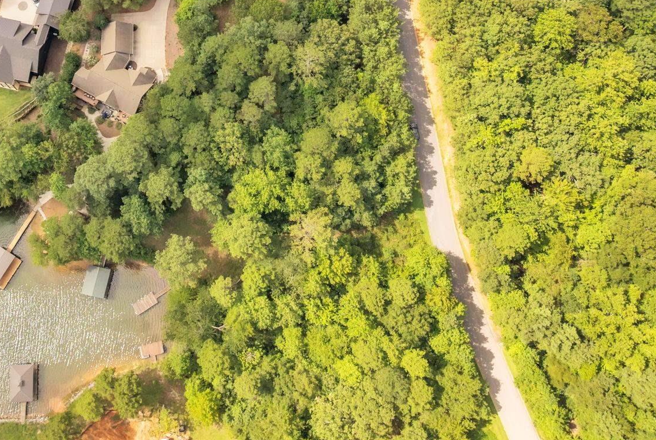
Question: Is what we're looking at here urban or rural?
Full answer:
From above, the setting appears rural.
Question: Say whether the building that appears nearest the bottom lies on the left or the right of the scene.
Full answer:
The building that appears nearest the bottom sits on the left side.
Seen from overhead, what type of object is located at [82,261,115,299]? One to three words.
building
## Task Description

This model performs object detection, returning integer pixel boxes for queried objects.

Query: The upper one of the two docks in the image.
[132,290,165,315]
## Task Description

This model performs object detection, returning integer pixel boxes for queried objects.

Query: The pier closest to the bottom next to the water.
[139,341,164,362]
